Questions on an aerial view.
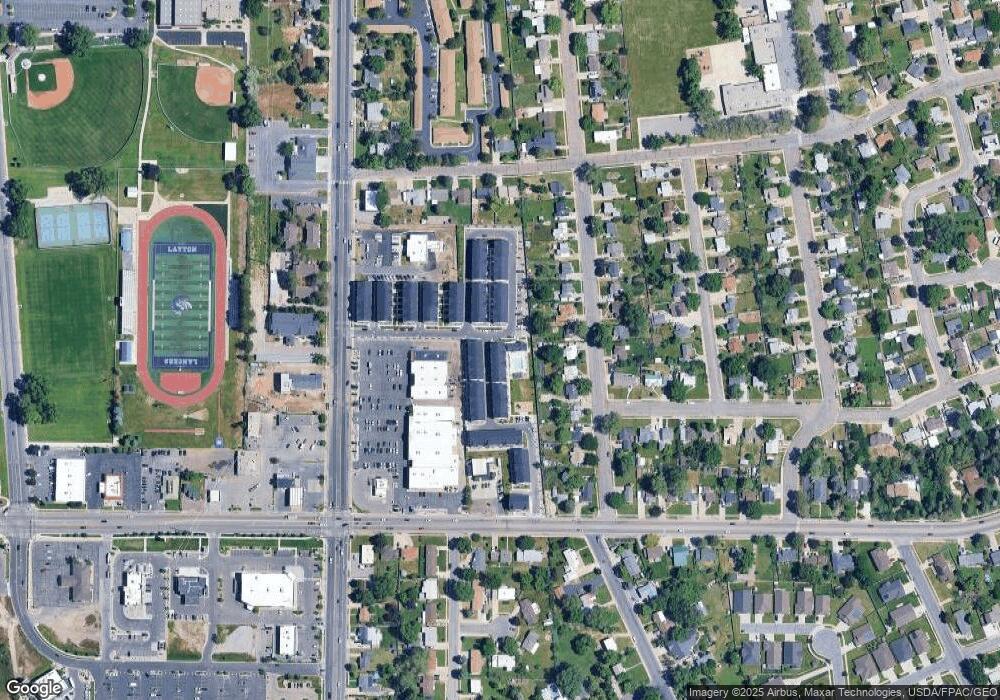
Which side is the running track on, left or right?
left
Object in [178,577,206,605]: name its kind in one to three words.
building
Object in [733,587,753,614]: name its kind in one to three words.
house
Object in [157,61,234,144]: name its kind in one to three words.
baseball field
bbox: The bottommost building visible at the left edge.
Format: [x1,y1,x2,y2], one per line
[21,670,69,700]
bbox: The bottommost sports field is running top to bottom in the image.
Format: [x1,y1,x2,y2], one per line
[148,216,216,397]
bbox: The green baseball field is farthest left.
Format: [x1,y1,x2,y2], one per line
[13,49,143,167]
